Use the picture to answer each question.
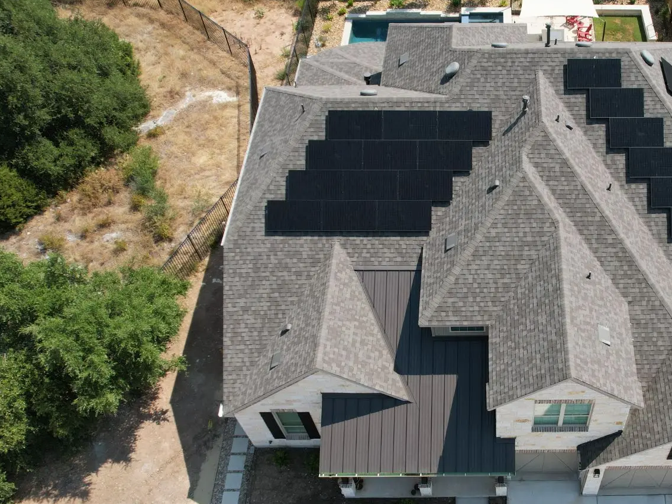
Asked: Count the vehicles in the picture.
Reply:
0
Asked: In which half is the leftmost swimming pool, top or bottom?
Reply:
top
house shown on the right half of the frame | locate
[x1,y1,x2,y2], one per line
[217,14,672,496]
